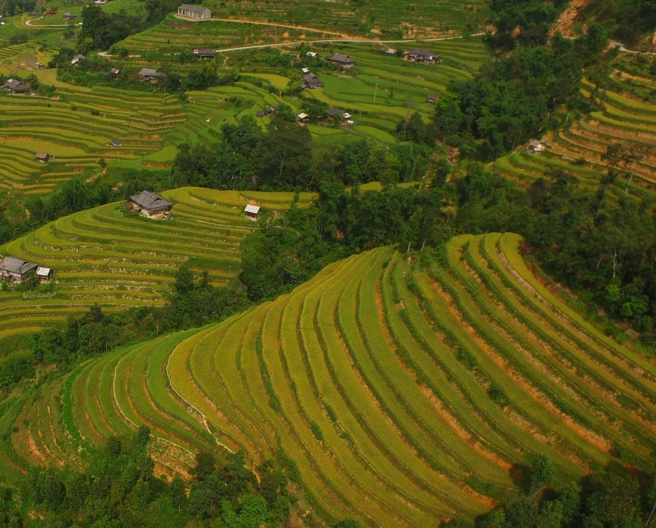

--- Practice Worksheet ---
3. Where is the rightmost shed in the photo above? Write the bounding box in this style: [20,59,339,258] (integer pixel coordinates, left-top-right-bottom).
[522,134,549,153]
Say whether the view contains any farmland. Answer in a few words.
Yes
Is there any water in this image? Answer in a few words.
No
